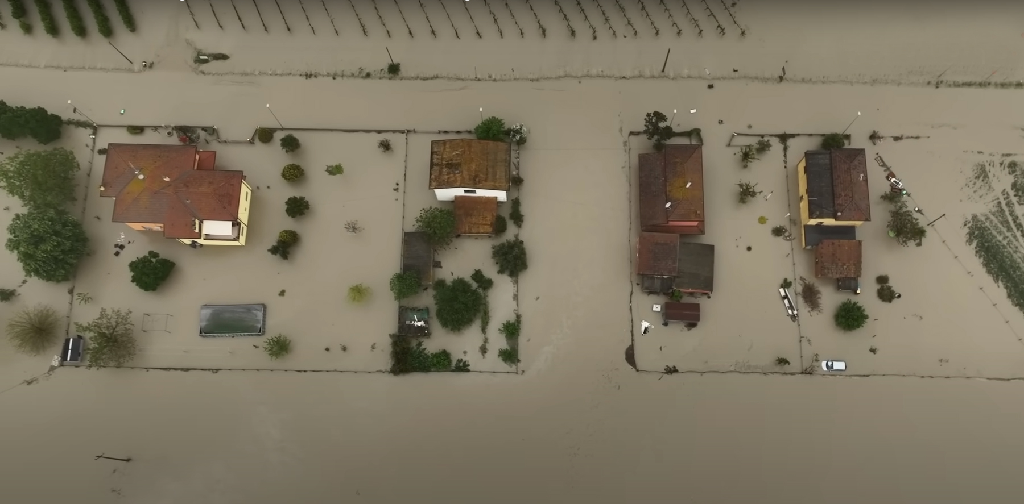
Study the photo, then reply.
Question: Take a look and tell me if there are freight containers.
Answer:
No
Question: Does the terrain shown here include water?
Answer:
Yes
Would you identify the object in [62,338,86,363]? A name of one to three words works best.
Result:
shed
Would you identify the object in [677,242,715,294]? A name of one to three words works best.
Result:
barn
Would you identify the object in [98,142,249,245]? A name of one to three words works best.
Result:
house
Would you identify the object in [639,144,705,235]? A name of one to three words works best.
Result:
house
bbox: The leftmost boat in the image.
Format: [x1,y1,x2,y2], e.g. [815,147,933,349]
[780,288,798,316]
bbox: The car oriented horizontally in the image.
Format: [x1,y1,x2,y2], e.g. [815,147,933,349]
[820,359,847,372]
